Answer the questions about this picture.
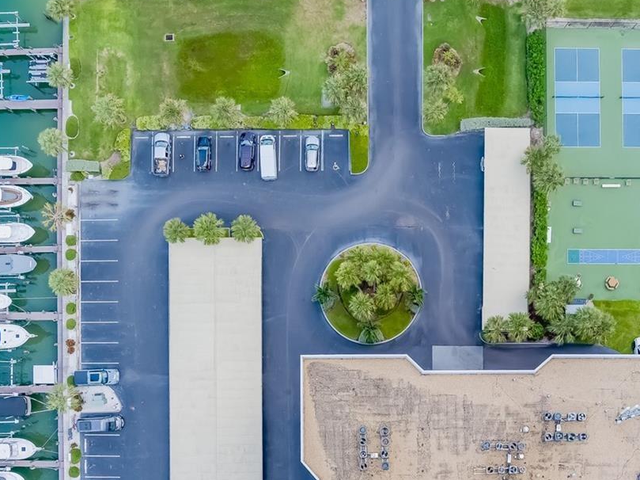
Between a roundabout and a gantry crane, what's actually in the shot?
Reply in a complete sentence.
It is a roundabout that can be seen here.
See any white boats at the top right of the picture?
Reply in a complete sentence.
No, looking at the top right of the picture, there is no white boat.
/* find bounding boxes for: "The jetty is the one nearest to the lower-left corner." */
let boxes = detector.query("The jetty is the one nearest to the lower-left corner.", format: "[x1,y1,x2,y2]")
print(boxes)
[0,457,63,470]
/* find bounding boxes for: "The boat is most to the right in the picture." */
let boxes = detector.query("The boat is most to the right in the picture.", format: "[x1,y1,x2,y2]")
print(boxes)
[81,386,121,413]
